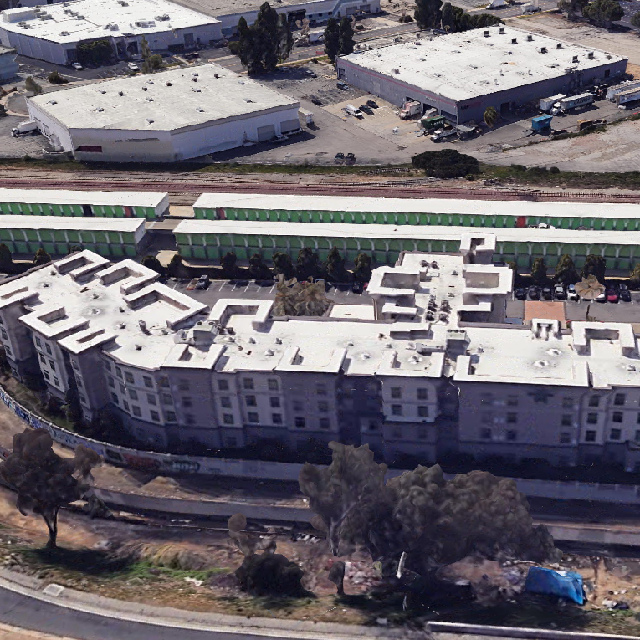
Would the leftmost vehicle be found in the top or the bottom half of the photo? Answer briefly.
top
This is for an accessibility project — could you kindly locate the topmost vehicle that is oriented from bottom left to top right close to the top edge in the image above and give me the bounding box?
[303,27,324,44]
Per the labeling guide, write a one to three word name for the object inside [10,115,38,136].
vehicle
